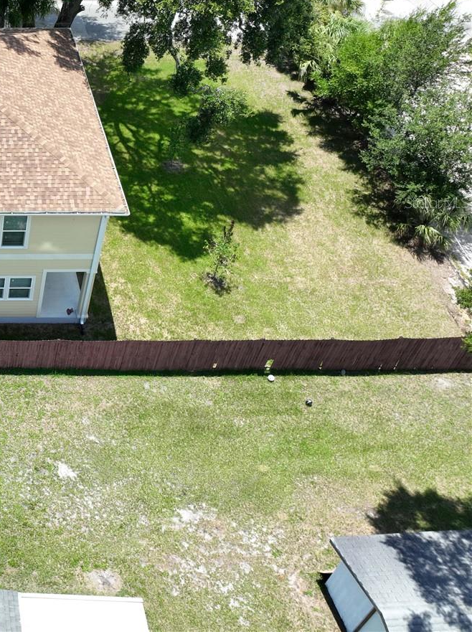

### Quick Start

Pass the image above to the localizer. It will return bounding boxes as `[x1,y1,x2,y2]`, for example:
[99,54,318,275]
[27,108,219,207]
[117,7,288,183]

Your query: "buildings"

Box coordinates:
[0,28,133,341]
[0,590,150,632]
[318,533,472,632]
